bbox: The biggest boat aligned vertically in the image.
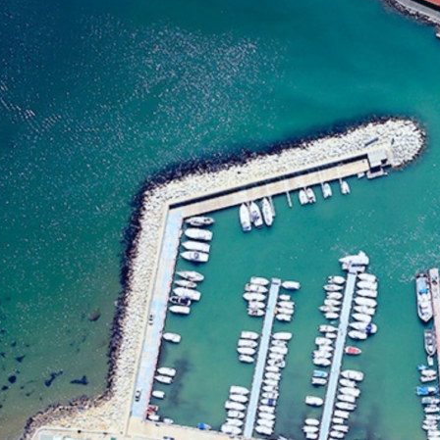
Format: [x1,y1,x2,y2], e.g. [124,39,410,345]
[416,274,431,323]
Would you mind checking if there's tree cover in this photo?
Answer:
No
